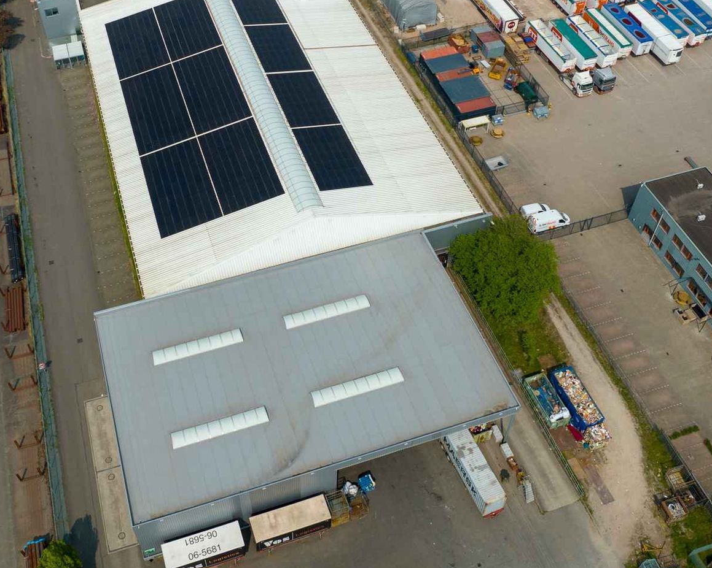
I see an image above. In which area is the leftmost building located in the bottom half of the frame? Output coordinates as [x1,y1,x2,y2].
[96,228,545,553]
